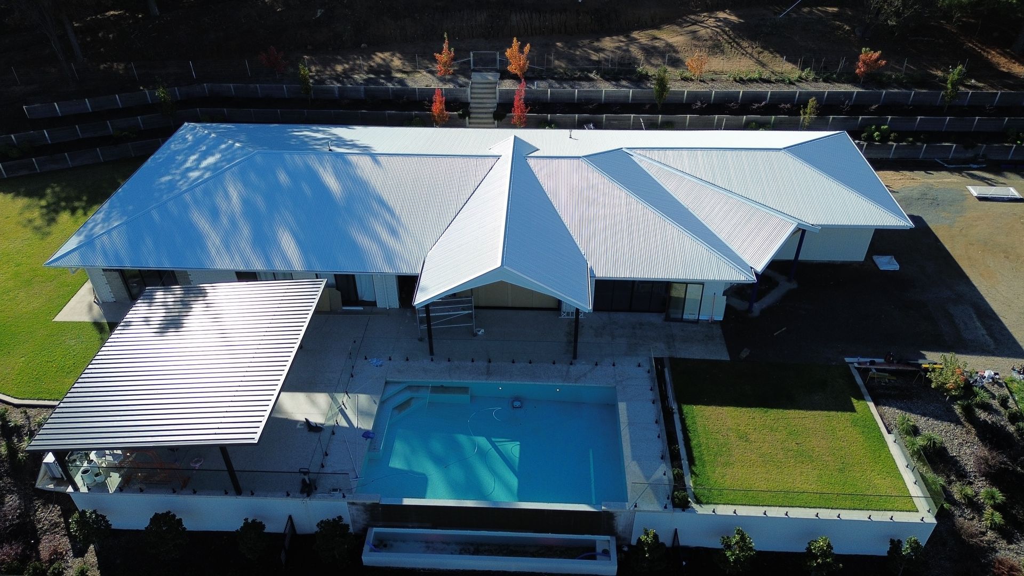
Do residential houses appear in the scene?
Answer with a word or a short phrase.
Yes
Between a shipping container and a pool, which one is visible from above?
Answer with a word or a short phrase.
pool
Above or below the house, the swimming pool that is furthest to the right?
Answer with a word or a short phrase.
below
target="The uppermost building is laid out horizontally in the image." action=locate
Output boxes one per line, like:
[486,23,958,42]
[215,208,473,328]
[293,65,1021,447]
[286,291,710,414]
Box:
[41,123,918,359]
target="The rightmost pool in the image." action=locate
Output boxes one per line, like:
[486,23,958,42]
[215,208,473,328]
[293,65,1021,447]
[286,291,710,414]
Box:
[355,382,628,516]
